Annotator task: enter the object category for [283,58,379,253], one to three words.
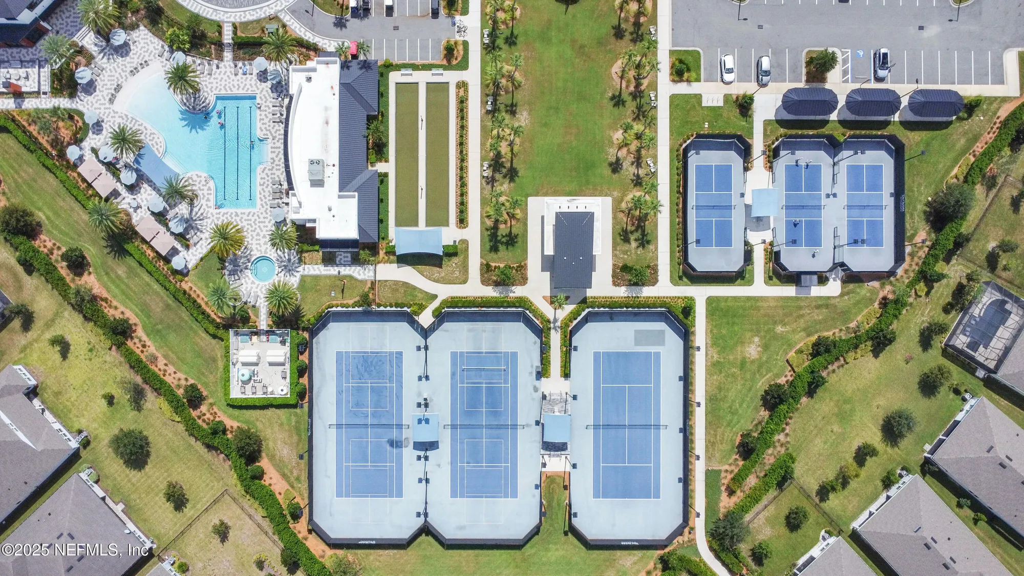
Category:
building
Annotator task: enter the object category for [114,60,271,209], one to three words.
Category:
swimming pool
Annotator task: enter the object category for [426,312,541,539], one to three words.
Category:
tennis court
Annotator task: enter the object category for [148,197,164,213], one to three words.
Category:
umbrella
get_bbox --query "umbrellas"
[83,109,101,125]
[75,67,92,84]
[170,215,186,232]
[267,69,282,83]
[171,255,187,270]
[171,53,187,67]
[66,145,84,160]
[120,168,137,185]
[271,208,285,222]
[254,56,268,71]
[98,145,116,162]
[148,197,164,213]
